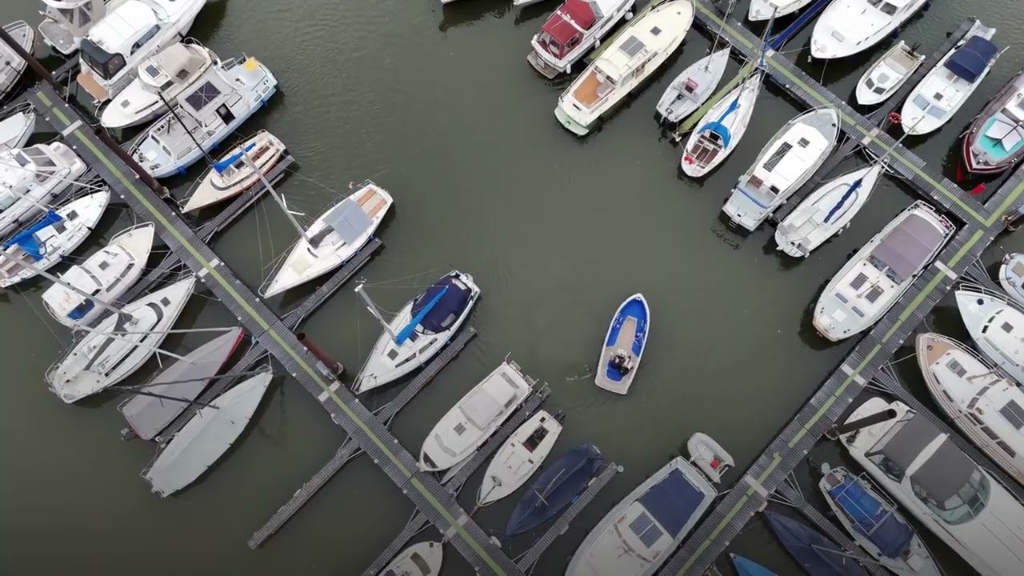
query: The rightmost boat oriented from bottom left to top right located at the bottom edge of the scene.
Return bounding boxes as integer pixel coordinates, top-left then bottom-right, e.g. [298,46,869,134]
[564,454,731,576]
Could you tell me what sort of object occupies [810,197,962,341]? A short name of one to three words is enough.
boat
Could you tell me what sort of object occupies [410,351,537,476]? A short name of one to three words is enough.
boat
